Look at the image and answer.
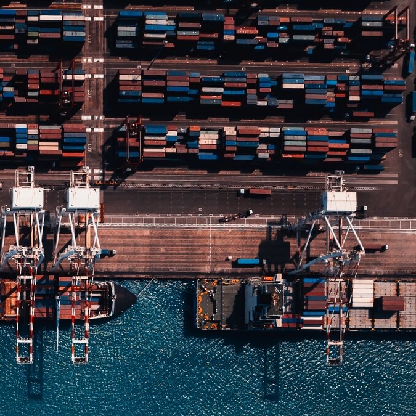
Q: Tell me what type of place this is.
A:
port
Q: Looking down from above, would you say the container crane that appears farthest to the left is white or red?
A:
white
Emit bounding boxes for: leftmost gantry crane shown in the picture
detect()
[0,163,50,364]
